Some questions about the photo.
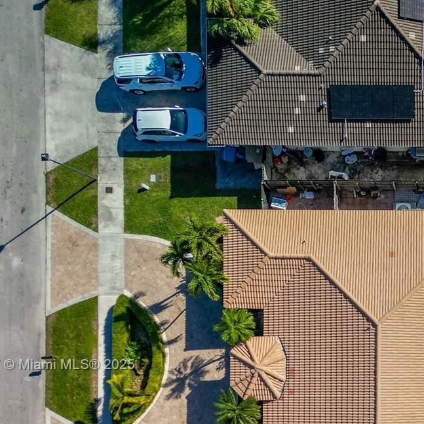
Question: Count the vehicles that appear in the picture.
two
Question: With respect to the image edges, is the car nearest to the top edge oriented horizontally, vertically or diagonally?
horizontally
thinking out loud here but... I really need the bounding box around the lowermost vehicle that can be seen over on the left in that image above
[131,104,206,146]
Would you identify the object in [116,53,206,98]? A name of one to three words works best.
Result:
car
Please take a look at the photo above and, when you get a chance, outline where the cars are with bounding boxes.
[131,104,206,146]
[116,53,206,98]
